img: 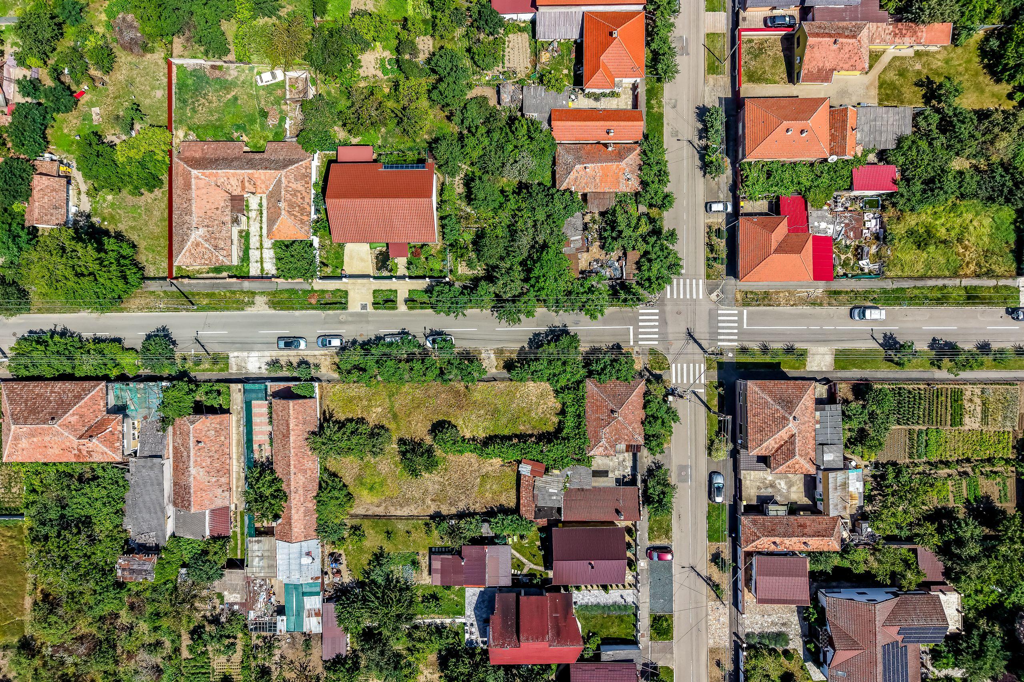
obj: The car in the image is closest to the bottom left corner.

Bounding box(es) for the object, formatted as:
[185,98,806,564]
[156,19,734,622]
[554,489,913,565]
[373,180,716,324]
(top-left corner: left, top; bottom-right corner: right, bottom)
[277,336,308,351]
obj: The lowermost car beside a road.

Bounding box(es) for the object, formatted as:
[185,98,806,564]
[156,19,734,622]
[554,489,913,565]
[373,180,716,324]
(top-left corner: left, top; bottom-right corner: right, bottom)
[646,547,673,563]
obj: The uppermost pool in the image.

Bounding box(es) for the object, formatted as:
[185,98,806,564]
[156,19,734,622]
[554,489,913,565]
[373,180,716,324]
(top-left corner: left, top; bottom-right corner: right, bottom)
[864,196,883,209]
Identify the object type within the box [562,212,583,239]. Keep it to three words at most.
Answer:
shed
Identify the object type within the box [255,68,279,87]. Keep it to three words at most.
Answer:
car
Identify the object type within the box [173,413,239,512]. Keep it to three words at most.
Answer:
house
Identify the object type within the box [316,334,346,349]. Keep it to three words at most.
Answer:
car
